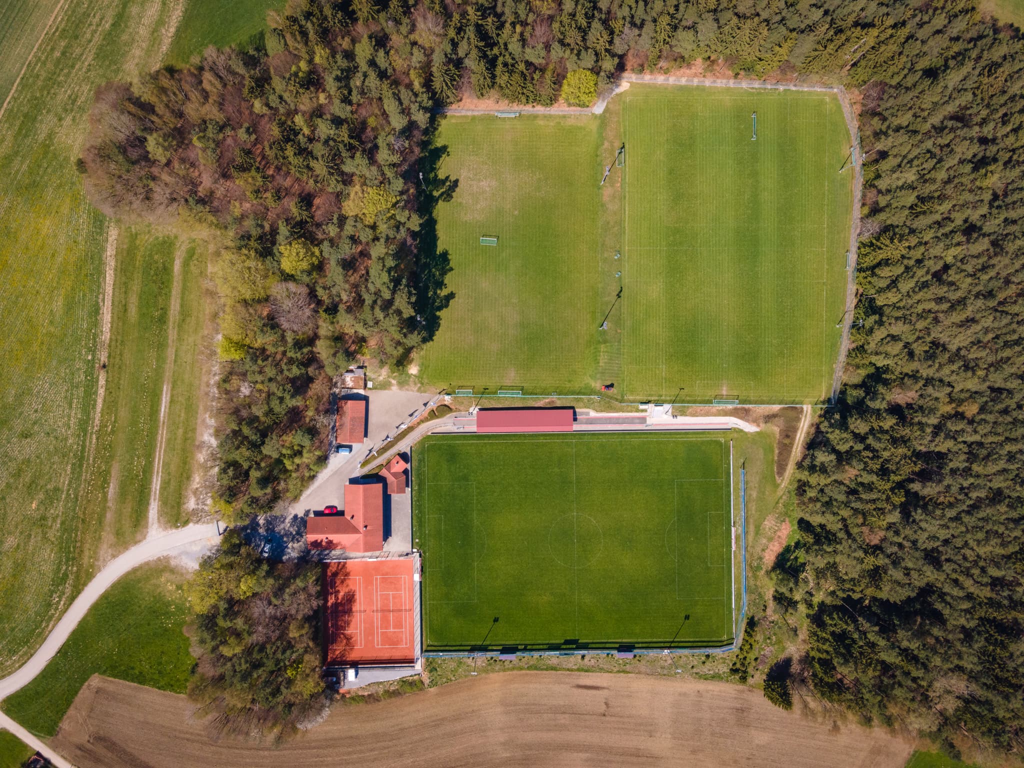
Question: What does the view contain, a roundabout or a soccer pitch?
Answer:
soccer pitch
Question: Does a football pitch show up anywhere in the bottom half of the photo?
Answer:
Yes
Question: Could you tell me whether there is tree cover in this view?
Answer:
Yes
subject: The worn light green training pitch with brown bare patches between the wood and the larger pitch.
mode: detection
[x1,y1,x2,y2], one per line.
[413,114,603,395]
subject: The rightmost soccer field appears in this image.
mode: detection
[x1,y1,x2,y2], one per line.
[621,83,854,404]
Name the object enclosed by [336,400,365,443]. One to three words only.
building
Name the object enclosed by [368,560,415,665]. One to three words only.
tennis court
